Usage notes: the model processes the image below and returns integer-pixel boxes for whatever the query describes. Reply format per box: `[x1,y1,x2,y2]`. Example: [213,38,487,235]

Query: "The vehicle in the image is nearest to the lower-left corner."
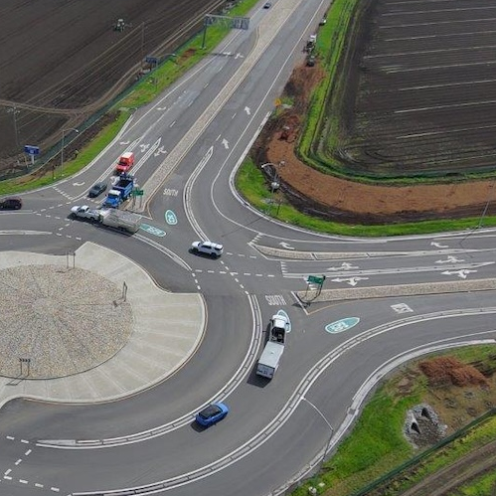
[194,401,231,428]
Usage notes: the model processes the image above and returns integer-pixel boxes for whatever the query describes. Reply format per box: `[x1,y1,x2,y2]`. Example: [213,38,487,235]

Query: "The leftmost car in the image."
[0,195,22,210]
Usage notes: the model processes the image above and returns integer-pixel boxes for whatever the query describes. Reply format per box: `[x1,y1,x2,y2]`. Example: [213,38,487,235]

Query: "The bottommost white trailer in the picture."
[258,336,286,373]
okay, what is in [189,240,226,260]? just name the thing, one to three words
car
